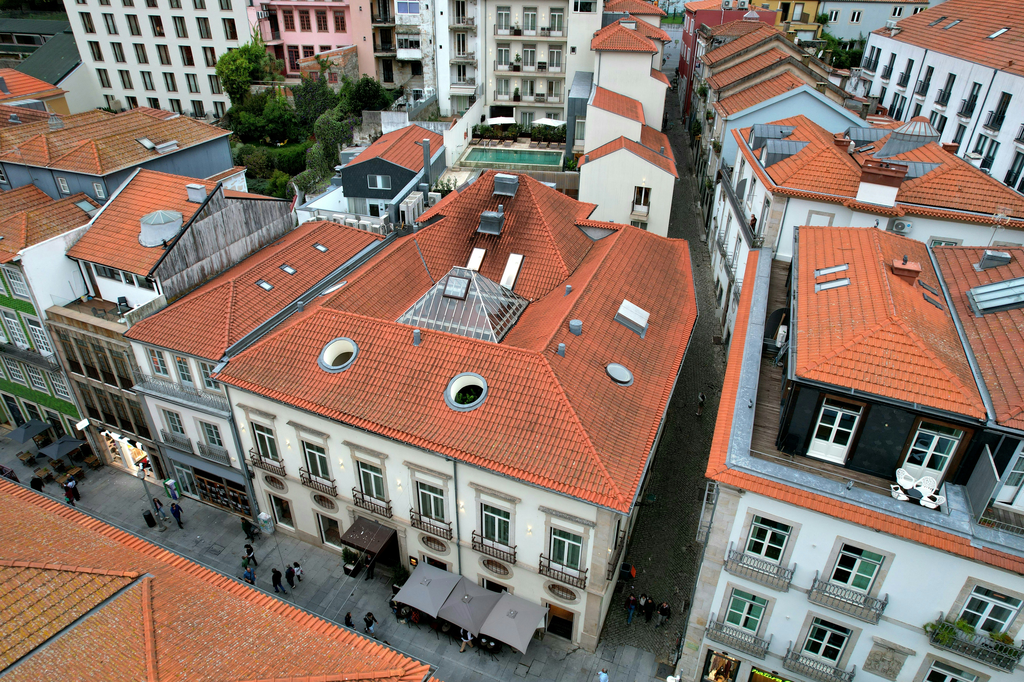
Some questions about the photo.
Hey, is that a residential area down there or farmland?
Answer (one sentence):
This looks like a residential area.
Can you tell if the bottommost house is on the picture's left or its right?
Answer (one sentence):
It is on the left.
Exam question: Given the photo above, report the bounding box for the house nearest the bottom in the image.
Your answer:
[0,473,437,682]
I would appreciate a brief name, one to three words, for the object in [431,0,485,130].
house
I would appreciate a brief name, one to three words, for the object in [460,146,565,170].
swimming pool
